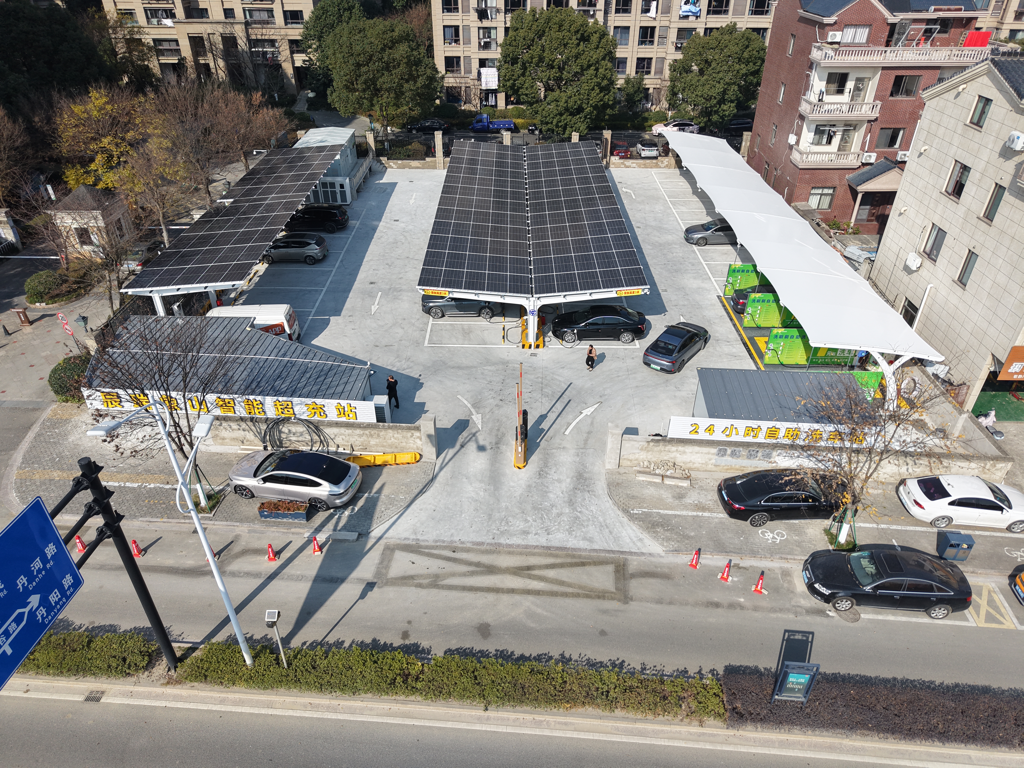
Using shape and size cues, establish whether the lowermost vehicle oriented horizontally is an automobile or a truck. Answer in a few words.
automobile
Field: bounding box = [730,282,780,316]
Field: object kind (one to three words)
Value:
car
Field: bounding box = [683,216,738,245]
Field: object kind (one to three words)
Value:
car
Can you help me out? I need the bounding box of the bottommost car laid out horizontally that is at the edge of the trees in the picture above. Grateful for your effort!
[799,543,979,621]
